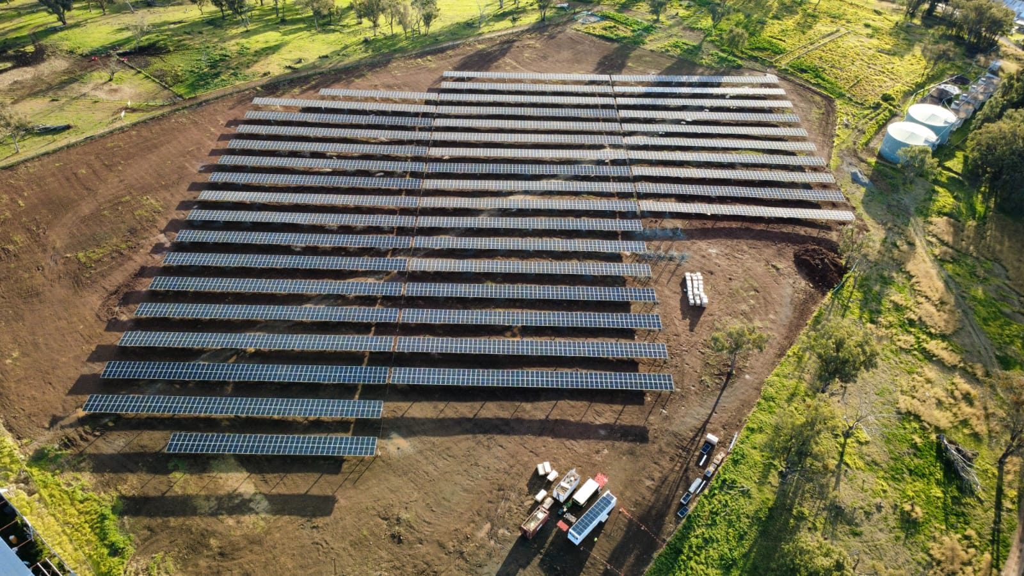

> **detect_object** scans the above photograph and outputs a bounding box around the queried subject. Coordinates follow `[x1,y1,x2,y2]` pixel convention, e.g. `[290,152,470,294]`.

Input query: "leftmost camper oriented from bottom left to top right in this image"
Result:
[568,490,617,542]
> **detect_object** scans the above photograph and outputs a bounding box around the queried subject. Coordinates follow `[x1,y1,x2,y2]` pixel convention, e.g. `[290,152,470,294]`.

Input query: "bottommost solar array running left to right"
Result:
[164,433,378,456]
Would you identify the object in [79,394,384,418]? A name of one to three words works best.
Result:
solar array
